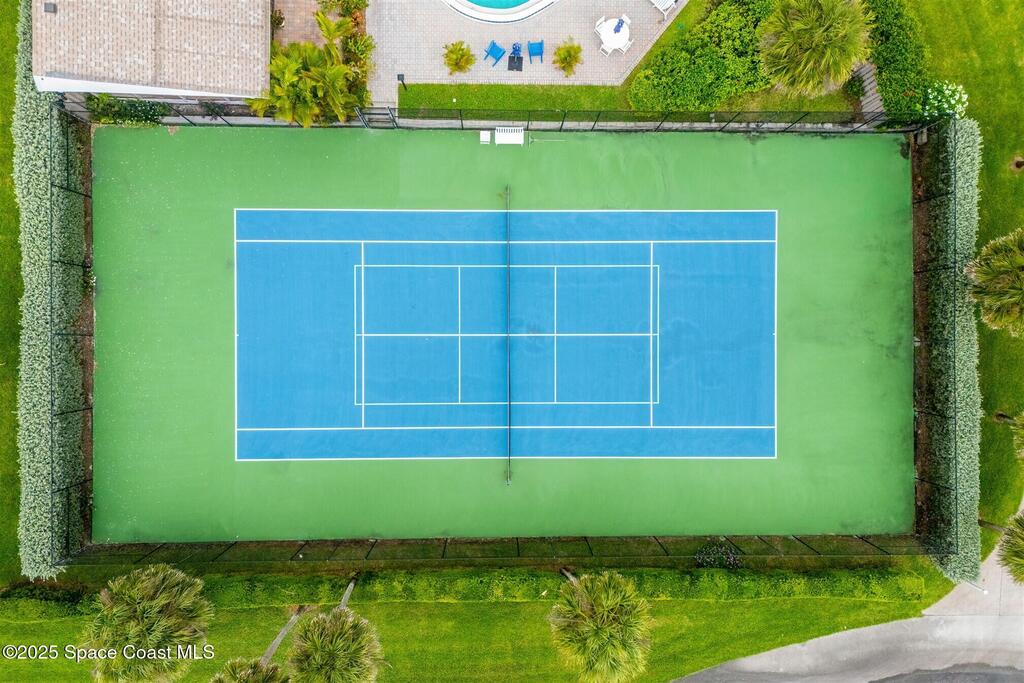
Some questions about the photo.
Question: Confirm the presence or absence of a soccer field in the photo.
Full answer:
No, no soccer field is visible in the view.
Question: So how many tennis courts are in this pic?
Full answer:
My tally gives 1 tennis court in this photo.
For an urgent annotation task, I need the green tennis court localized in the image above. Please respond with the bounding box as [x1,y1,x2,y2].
[92,125,915,543]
